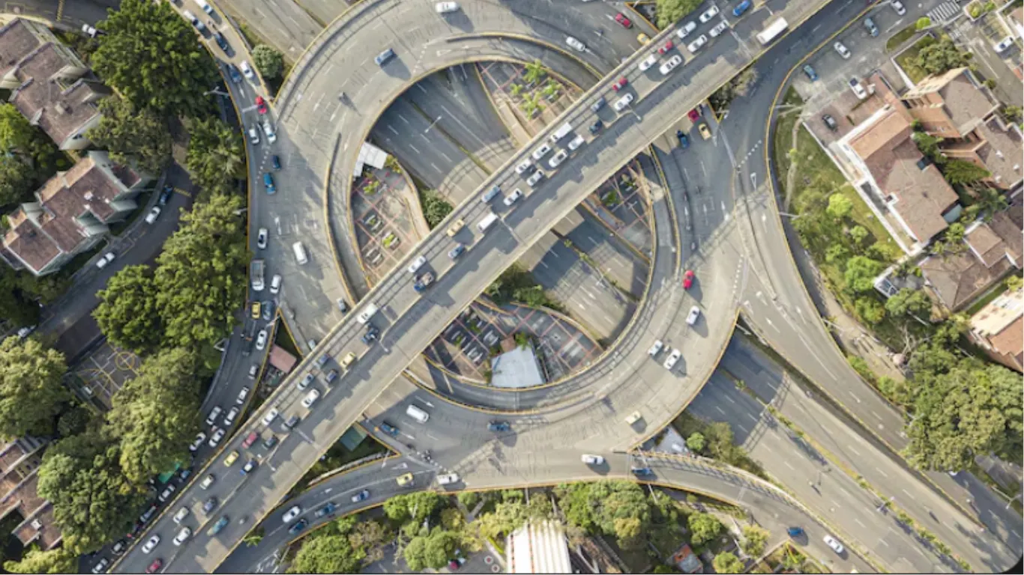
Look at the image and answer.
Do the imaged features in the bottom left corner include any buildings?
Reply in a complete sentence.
Yes, in the bottom left corner there is a building.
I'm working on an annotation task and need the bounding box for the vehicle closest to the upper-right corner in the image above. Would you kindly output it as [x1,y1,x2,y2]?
[995,35,1015,50]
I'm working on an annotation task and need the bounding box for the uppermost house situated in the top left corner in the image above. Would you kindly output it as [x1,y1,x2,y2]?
[0,18,111,152]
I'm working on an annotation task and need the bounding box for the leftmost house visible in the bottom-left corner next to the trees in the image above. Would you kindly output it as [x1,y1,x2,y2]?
[0,436,78,547]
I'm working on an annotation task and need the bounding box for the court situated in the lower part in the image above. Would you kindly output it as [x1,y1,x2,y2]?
[64,339,153,418]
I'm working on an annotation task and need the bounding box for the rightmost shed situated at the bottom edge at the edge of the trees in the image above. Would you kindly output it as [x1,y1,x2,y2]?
[672,542,704,575]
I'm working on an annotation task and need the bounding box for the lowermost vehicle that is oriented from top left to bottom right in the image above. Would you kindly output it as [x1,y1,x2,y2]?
[824,537,843,552]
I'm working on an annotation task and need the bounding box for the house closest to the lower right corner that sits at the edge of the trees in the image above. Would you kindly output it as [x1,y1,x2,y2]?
[967,271,1024,373]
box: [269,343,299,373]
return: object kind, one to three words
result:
shed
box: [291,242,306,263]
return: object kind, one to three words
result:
vehicle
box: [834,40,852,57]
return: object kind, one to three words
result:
car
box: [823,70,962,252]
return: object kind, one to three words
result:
house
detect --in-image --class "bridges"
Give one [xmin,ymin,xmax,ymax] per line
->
[105,0,829,575]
